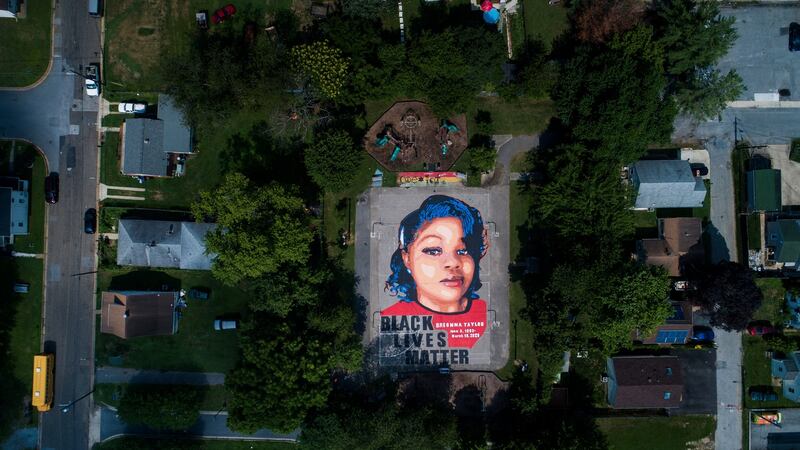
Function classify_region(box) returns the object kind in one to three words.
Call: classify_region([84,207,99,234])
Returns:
car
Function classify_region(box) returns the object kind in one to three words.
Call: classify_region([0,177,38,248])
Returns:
house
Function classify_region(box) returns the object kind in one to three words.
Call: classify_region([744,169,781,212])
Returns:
shed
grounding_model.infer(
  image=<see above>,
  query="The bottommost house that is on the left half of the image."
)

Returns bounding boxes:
[100,291,187,338]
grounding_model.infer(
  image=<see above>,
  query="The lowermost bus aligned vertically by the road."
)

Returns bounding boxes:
[30,351,56,407]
